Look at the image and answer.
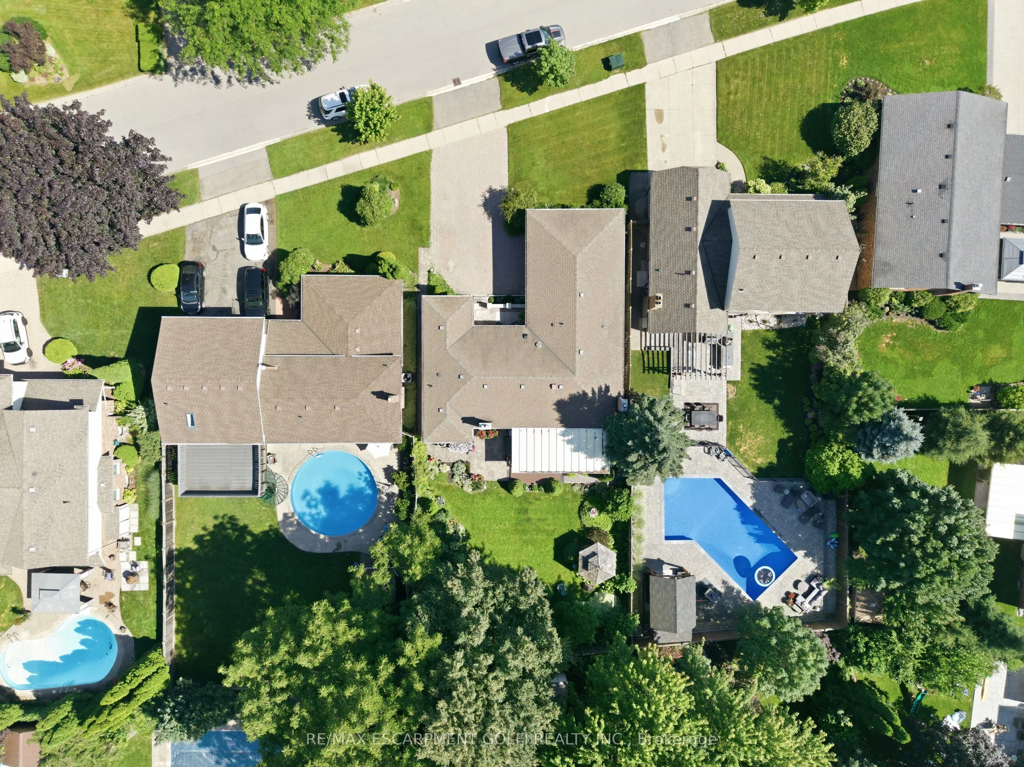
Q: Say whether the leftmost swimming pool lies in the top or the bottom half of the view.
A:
bottom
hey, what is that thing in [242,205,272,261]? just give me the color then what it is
white car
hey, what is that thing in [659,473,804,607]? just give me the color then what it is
blue swimming pool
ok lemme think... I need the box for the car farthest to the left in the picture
[0,312,36,363]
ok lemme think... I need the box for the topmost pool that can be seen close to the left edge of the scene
[0,612,120,693]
